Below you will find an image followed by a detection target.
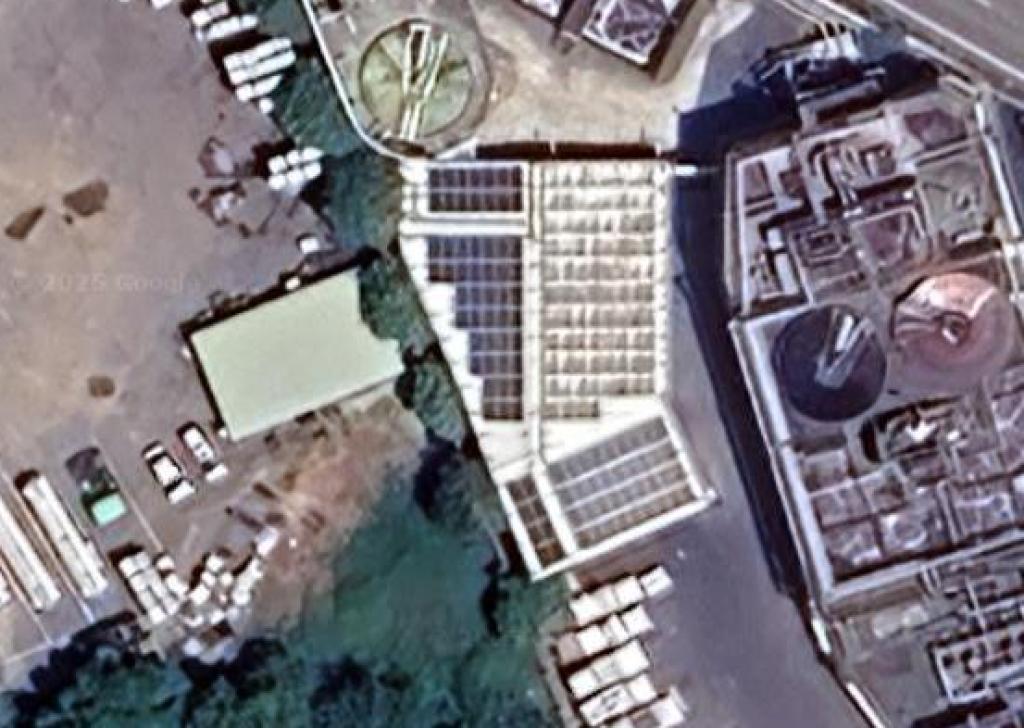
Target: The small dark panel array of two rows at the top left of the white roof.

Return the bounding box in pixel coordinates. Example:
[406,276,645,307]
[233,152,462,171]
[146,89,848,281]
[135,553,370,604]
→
[429,166,524,212]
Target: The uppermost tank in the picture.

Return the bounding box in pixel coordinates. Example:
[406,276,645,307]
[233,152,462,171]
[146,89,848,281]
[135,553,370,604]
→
[356,18,490,150]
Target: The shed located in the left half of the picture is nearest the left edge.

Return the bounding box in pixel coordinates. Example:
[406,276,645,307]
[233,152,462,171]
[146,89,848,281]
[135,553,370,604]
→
[191,269,404,440]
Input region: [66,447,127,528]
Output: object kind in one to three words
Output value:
truck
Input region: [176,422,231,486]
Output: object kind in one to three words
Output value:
car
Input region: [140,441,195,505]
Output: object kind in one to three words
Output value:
car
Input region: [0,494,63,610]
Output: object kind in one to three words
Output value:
trailer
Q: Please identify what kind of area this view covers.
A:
industrial area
